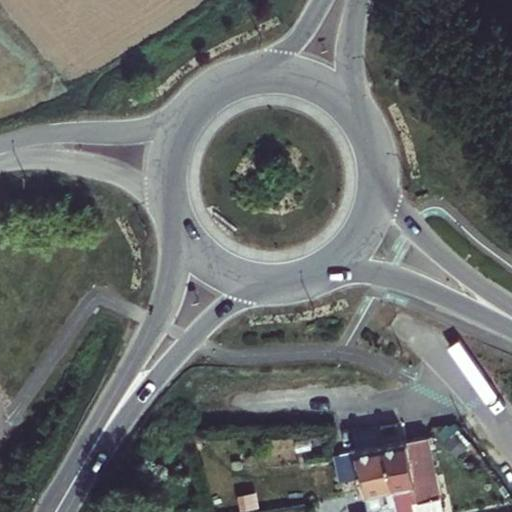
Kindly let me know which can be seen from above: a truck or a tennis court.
truck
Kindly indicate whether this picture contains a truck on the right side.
Yes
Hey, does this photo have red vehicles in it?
No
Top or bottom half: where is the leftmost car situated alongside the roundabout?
bottom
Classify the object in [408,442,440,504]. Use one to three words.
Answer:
house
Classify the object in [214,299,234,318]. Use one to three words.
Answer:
car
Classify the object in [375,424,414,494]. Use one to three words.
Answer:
house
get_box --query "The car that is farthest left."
[90,452,108,475]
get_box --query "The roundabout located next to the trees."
[62,0,480,370]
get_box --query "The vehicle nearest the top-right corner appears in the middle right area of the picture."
[404,214,422,237]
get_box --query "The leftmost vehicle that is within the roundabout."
[184,218,200,240]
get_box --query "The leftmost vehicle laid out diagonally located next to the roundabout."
[138,380,157,402]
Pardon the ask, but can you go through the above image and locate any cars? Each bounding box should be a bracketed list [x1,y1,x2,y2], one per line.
[342,426,353,449]
[138,380,157,402]
[184,218,200,240]
[404,214,422,237]
[501,465,512,488]
[214,299,234,318]
[90,452,108,475]
[329,270,352,281]
[308,400,330,410]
